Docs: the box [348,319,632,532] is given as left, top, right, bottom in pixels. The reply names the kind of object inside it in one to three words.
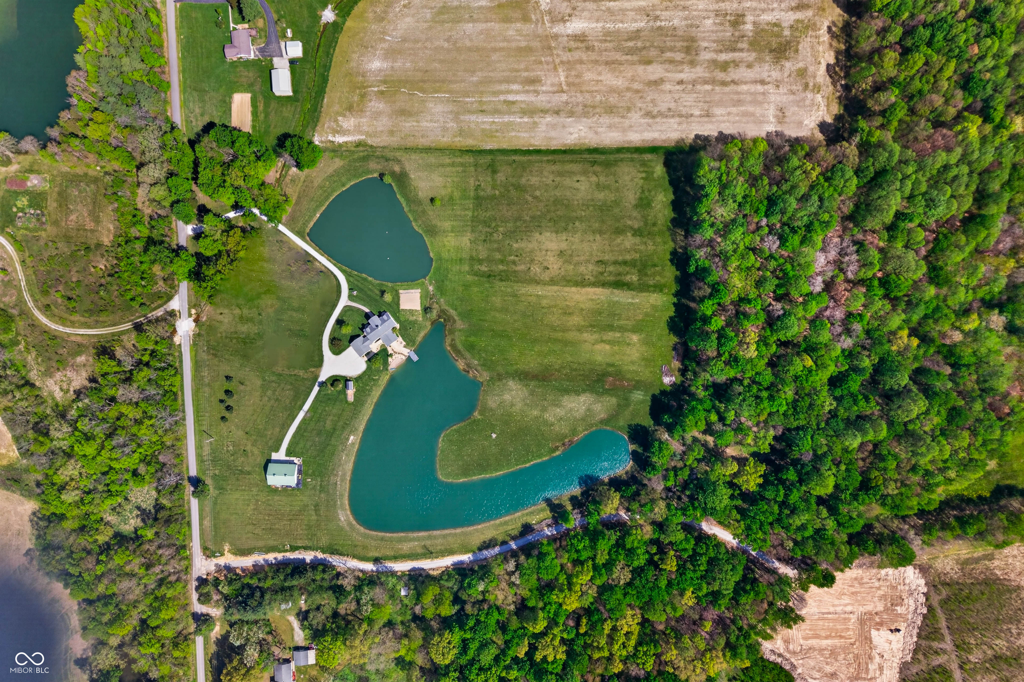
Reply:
pond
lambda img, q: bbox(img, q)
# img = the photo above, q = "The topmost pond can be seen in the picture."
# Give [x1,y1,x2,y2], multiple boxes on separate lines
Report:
[308,177,433,283]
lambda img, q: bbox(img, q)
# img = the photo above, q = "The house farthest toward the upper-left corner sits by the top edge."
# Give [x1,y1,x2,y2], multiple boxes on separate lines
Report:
[224,29,262,61]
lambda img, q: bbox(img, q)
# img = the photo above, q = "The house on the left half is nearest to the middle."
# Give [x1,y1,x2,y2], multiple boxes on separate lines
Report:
[351,312,400,359]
